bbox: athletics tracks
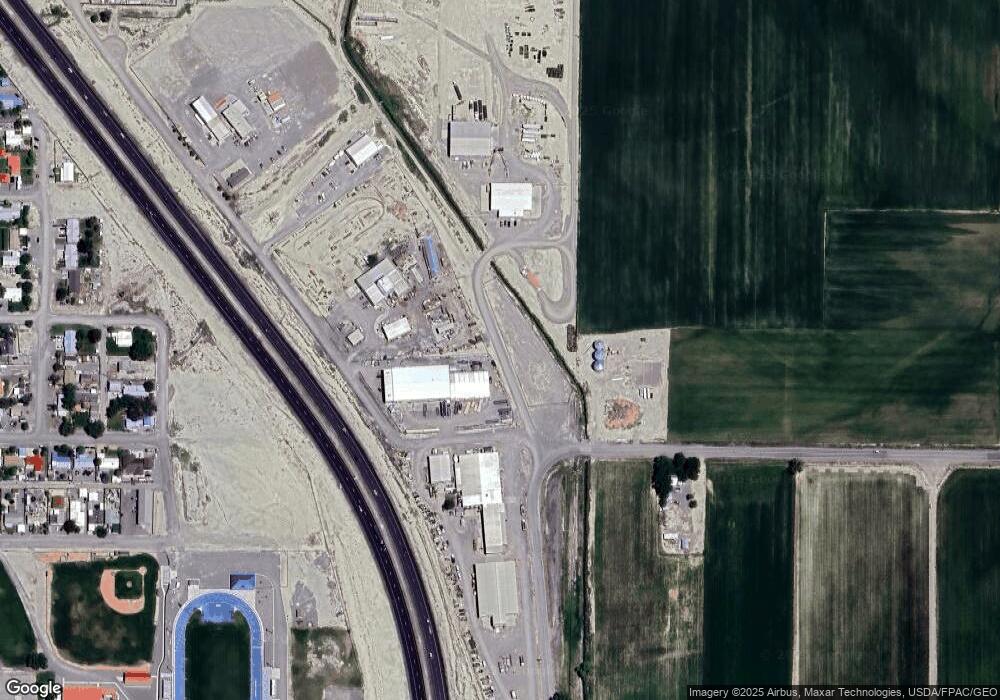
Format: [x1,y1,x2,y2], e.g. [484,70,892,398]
[172,590,265,700]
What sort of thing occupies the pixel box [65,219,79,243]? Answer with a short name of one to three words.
house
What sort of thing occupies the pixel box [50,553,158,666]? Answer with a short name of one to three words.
baseball field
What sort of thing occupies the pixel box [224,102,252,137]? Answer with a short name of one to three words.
building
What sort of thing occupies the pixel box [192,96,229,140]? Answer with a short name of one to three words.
shed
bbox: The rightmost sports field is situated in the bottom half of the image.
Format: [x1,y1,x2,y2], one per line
[186,607,250,700]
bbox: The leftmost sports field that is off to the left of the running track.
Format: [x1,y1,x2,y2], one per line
[0,559,34,666]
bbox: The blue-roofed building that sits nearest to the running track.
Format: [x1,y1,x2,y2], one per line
[231,575,255,590]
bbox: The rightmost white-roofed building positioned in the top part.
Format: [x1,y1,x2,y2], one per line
[491,183,532,217]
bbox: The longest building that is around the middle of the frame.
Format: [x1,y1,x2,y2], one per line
[384,365,489,402]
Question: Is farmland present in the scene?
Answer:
Yes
